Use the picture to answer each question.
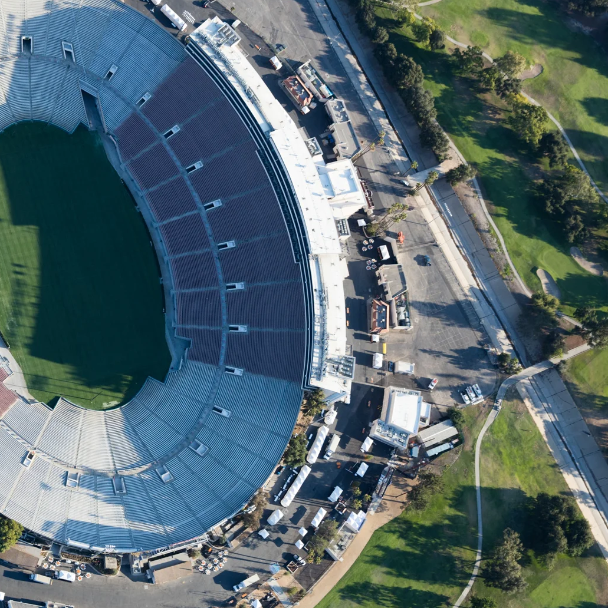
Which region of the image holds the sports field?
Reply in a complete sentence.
The sports field is in the left part of the image.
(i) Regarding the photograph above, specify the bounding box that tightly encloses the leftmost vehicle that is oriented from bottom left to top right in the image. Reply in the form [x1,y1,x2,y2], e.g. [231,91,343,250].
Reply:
[233,572,261,593]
